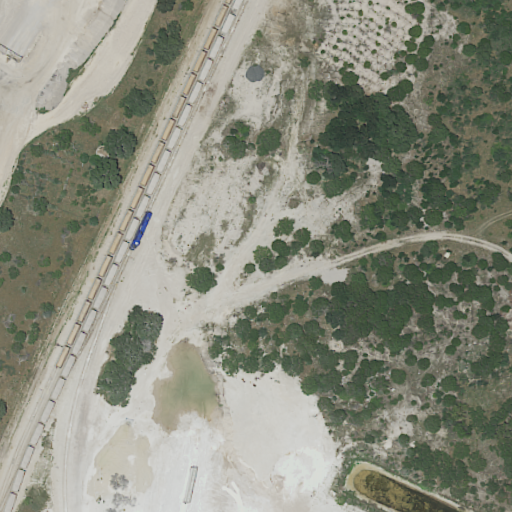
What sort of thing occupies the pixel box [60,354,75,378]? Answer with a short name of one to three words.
rail car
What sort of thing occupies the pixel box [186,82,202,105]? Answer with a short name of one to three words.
rail car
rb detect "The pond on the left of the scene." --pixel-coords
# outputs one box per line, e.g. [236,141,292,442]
[152,338,217,434]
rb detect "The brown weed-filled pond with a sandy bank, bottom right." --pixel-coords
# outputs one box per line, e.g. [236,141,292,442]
[354,470,454,512]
